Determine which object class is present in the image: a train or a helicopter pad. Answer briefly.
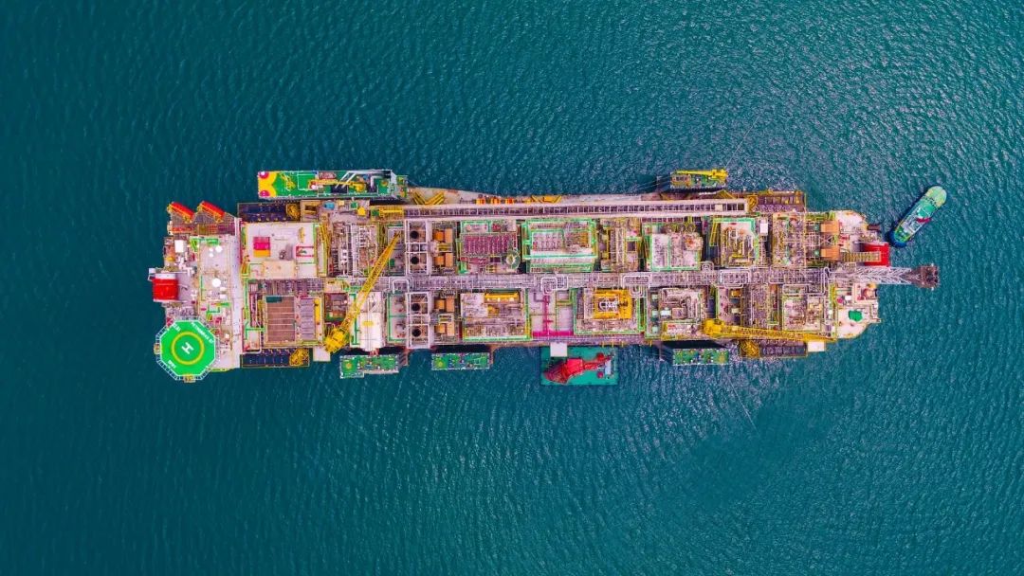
helicopter pad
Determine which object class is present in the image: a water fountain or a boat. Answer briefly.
boat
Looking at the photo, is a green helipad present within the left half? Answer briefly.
Yes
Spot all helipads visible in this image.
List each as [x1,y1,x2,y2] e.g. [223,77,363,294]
[154,316,226,381]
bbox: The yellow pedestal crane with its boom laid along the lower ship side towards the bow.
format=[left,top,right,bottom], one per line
[703,312,839,343]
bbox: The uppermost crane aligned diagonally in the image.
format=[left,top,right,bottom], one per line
[322,231,404,355]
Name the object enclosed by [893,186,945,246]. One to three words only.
boat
